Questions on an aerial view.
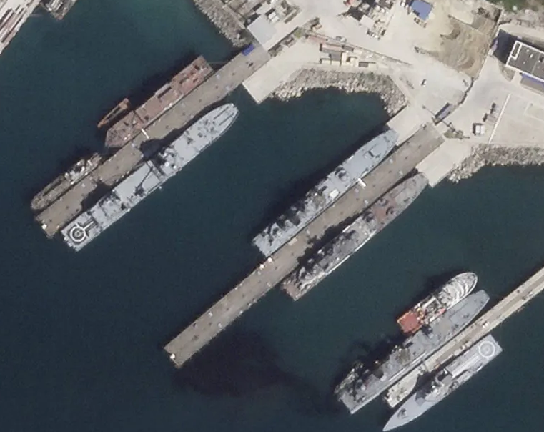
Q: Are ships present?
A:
Yes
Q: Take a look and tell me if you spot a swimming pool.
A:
No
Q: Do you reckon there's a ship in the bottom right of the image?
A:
Yes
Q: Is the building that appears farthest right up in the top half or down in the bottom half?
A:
top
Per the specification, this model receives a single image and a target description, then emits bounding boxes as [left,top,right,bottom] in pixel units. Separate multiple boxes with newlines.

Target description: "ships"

[61,103,239,251]
[97,100,129,126]
[399,275,477,333]
[282,173,428,303]
[384,337,501,431]
[31,157,100,209]
[338,290,488,415]
[253,130,398,257]
[106,56,213,145]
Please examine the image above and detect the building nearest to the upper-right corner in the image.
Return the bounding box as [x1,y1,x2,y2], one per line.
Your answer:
[507,41,544,85]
